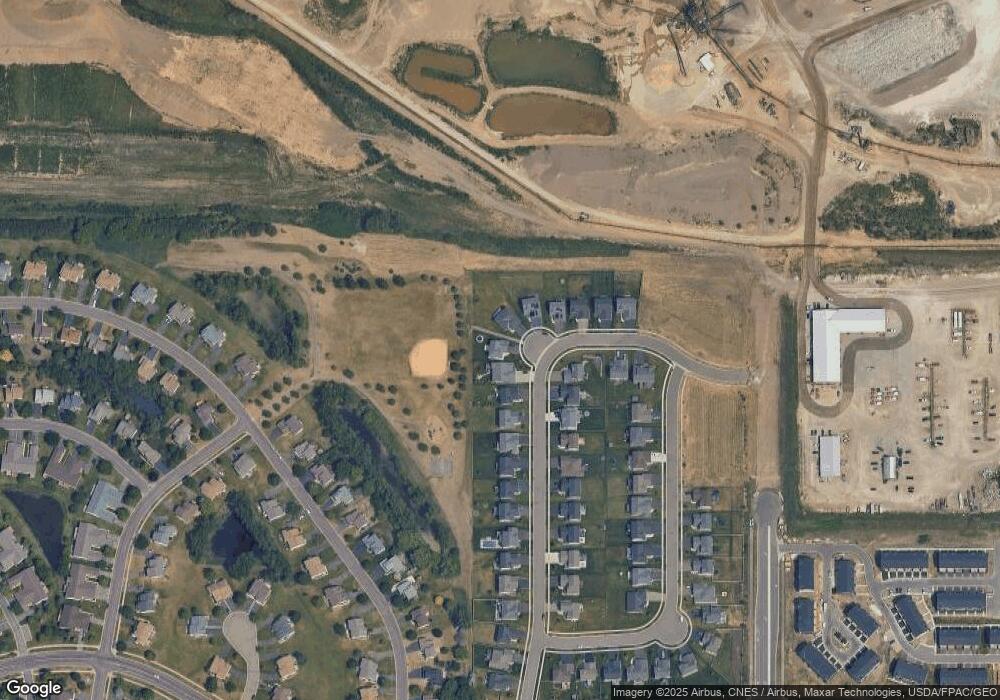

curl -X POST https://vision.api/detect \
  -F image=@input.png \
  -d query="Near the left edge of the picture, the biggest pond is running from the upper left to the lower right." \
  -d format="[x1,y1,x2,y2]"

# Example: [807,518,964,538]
[7,491,62,568]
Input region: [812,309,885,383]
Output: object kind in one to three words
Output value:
building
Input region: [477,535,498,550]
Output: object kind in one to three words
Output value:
swimming pool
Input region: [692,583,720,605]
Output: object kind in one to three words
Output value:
house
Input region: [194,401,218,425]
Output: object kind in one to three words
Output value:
house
